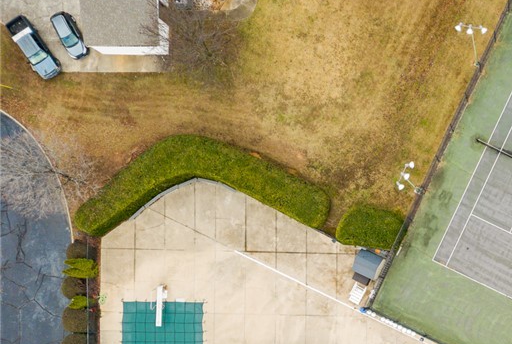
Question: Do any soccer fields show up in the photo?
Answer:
No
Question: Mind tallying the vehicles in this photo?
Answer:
2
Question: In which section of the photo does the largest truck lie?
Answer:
top left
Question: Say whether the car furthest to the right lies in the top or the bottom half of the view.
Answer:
top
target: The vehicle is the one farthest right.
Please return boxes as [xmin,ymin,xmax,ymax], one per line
[47,11,89,61]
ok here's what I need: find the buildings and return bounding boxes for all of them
[347,249,383,281]
[80,0,172,56]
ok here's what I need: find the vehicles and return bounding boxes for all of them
[47,11,89,61]
[4,14,62,81]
